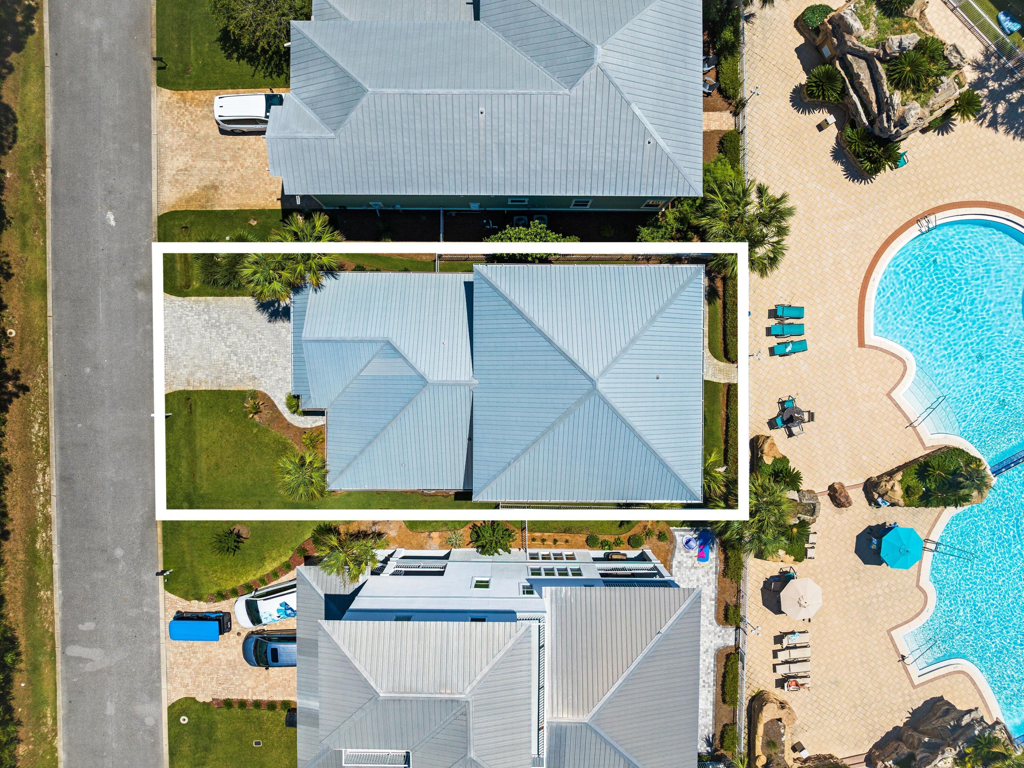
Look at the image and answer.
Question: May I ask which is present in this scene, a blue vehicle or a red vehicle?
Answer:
blue vehicle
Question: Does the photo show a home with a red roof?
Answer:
No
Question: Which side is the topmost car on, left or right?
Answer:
left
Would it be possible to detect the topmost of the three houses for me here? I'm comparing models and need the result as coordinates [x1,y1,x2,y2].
[267,0,705,217]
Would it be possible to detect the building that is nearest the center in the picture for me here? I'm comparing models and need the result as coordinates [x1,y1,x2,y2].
[288,260,708,506]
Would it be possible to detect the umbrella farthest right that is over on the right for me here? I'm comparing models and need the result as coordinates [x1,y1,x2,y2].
[879,527,924,570]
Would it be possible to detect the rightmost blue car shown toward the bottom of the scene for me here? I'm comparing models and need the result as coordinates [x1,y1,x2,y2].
[242,628,296,670]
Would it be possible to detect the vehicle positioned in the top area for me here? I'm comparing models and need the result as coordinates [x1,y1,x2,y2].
[215,89,283,134]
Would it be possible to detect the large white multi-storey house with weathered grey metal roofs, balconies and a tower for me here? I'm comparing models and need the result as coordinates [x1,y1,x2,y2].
[294,547,704,768]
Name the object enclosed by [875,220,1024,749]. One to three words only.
swimming pool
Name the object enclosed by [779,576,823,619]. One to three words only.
umbrella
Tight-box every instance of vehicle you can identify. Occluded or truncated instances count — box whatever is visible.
[230,574,296,623]
[215,89,283,134]
[242,628,296,670]
[167,609,231,641]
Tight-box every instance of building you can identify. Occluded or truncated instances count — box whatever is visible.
[288,260,708,506]
[267,0,705,217]
[294,547,704,768]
